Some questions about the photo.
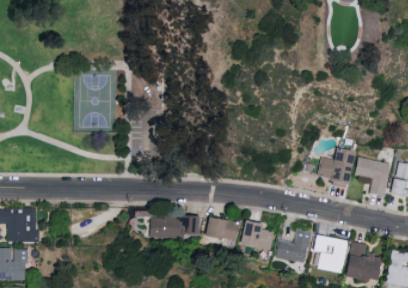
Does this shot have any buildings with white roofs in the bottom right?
Yes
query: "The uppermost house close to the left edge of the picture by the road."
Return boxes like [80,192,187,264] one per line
[0,208,38,243]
